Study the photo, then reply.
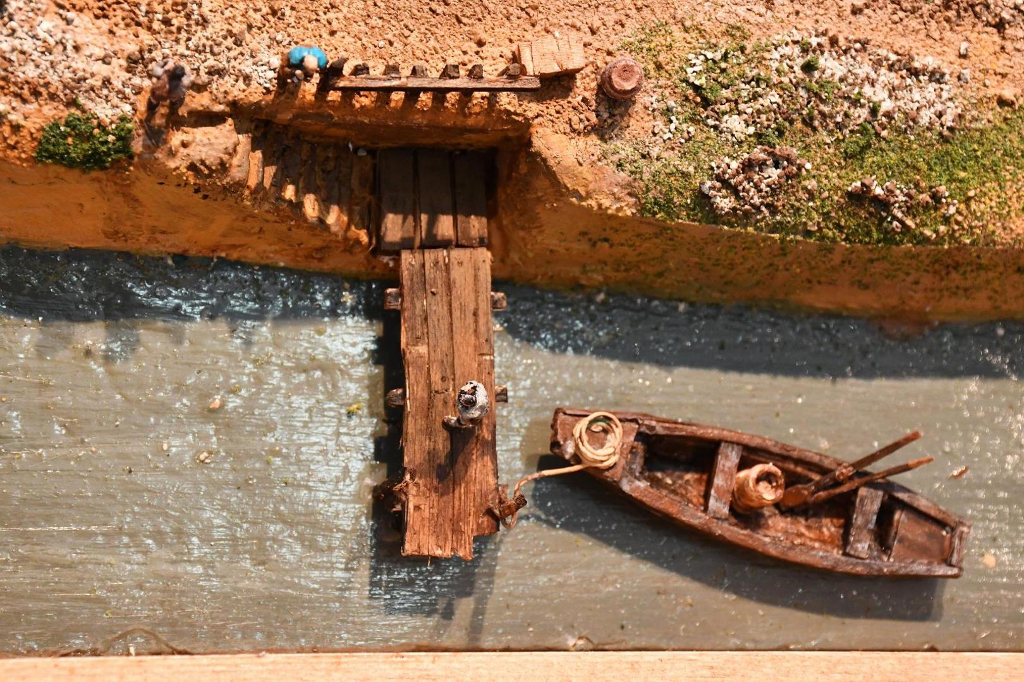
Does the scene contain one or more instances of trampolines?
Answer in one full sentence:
No, I find no trampoline anywhere in the image.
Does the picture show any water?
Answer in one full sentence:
Yes, water shows up in the scene.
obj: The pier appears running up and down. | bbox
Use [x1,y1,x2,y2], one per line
[377,247,527,566]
